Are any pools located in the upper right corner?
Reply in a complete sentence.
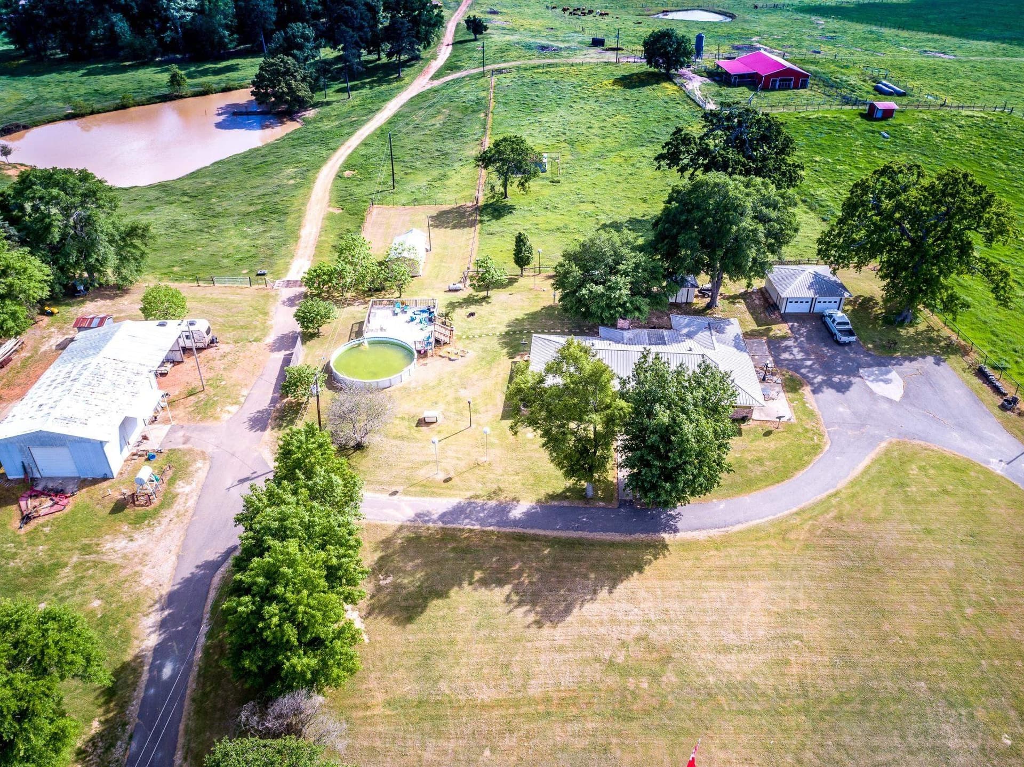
No, there is no pool in the upper right corner.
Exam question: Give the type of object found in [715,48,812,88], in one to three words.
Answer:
barn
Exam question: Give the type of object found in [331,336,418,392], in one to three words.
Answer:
swimming pool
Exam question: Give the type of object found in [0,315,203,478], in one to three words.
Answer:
barn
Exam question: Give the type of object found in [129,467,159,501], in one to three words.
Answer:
storage tank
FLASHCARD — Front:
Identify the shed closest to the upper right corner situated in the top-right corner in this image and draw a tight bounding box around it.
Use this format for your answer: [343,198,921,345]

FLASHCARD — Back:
[868,104,903,118]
